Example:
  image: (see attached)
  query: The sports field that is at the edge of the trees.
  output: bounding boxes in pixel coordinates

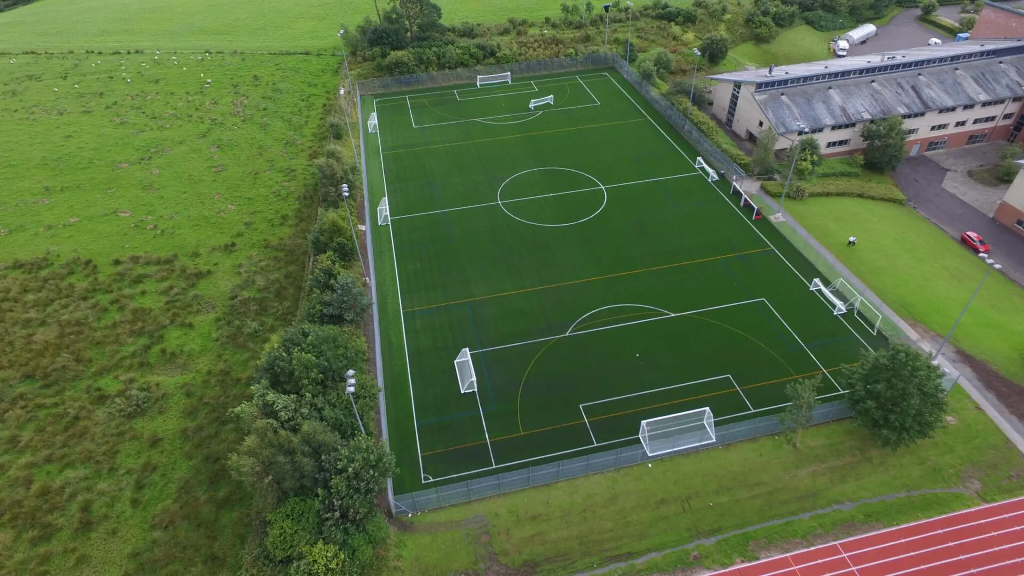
[362,67,897,514]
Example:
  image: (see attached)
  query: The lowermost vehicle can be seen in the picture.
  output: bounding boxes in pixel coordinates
[961,232,993,253]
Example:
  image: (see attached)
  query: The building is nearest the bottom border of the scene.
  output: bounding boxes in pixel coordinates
[990,169,1024,247]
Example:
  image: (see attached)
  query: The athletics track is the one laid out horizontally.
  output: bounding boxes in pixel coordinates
[708,495,1024,576]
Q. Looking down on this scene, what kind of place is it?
sports ground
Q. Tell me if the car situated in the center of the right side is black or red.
red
